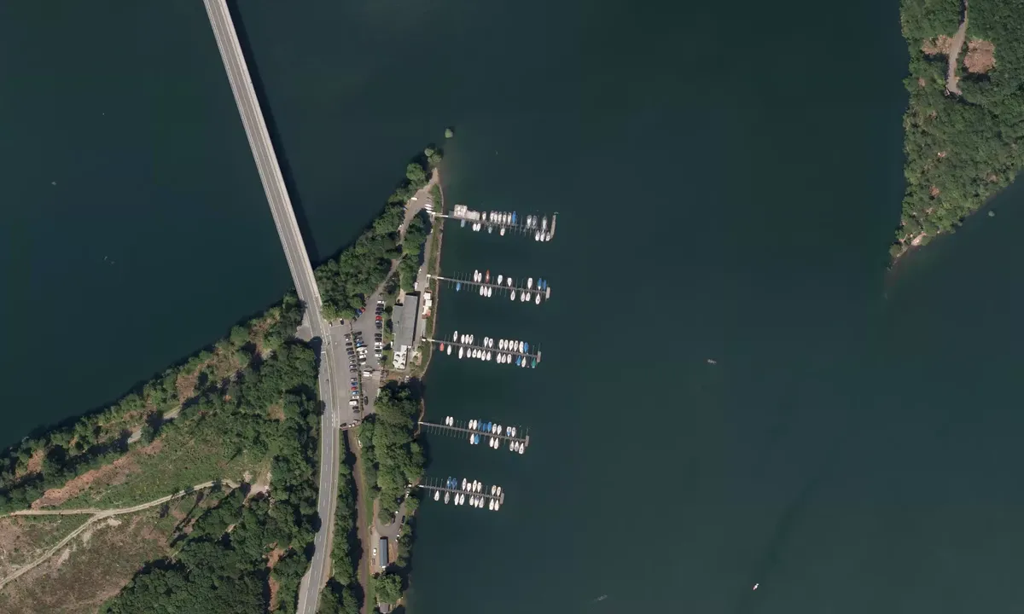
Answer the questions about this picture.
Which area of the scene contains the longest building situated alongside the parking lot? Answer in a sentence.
The longest building situated alongside the parking lot sits in the center section of the image.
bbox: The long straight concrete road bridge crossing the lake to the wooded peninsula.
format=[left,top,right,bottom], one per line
[203,0,320,306]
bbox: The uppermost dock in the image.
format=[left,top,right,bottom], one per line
[434,214,556,238]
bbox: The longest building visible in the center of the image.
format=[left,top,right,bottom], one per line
[392,295,417,369]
